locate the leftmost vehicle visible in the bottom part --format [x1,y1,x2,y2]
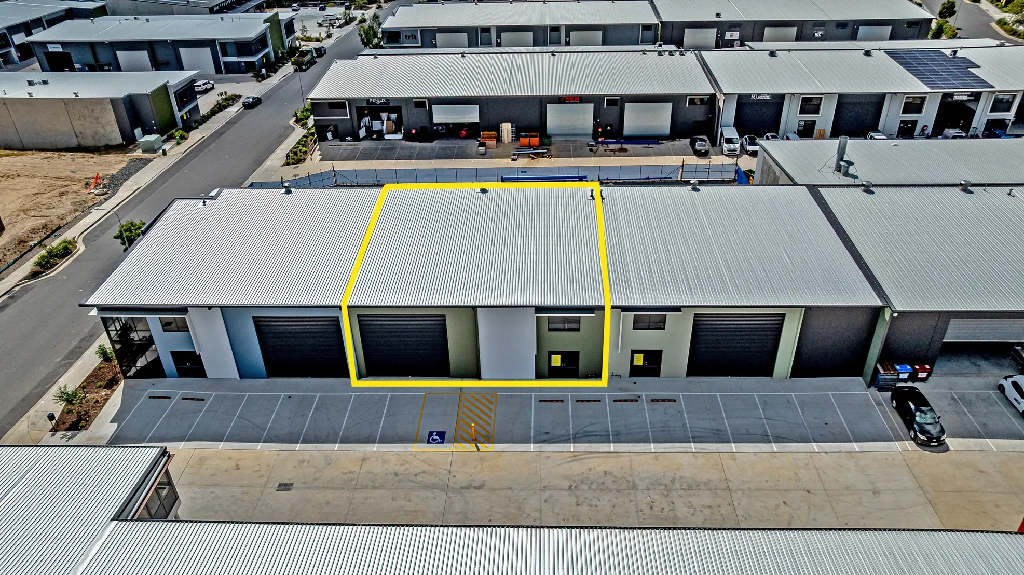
[890,386,949,444]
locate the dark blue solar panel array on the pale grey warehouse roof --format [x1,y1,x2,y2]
[883,47,992,88]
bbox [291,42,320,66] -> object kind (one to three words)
truck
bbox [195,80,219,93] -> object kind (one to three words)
vehicle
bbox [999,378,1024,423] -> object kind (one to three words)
car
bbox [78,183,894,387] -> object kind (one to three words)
warehouse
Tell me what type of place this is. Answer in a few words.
industrial area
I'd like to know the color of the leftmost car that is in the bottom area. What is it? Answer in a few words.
black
